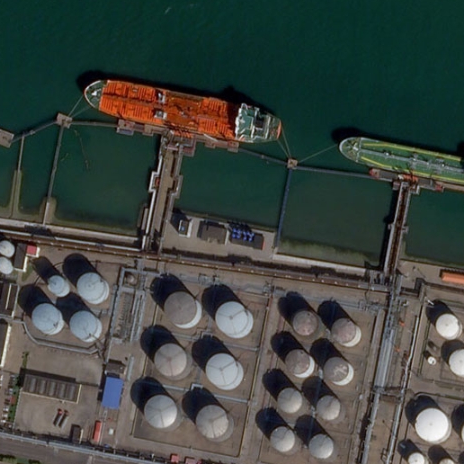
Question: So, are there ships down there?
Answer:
Yes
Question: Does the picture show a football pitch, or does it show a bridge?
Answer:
bridge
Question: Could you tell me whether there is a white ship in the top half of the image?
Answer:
No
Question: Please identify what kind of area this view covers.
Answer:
industrial area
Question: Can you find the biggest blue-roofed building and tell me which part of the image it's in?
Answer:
bottom left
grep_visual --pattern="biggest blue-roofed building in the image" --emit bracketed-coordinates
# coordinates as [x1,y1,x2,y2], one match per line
[102,376,125,410]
